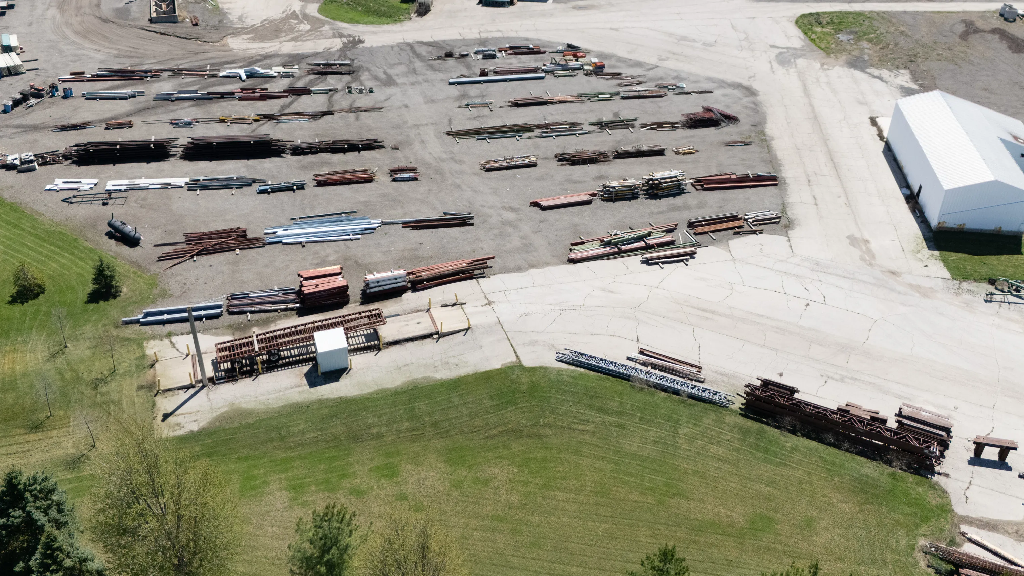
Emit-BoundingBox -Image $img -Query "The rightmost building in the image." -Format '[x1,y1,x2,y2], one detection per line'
[886,88,1024,234]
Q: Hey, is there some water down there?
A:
No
